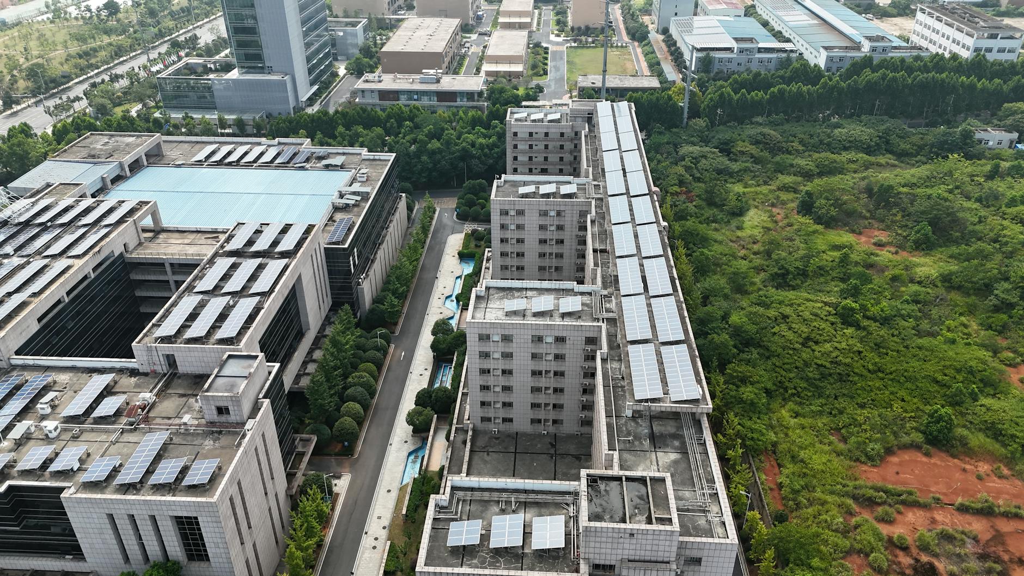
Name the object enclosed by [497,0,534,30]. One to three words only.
building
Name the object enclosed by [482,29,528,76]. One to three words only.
building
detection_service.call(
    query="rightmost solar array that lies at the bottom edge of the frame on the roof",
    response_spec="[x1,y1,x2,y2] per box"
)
[531,515,565,559]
